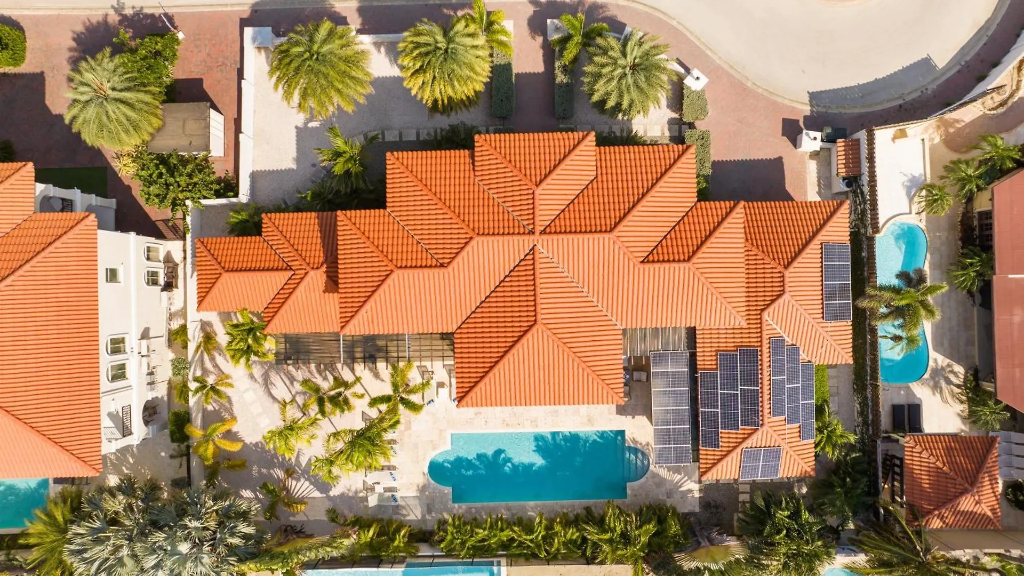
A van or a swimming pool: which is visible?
swimming pool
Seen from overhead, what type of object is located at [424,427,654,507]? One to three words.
swimming pool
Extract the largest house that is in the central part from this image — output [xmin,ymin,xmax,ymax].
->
[194,130,854,486]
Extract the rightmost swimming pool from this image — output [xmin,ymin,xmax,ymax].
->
[877,219,932,386]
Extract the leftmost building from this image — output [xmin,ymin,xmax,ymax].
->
[0,160,170,478]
